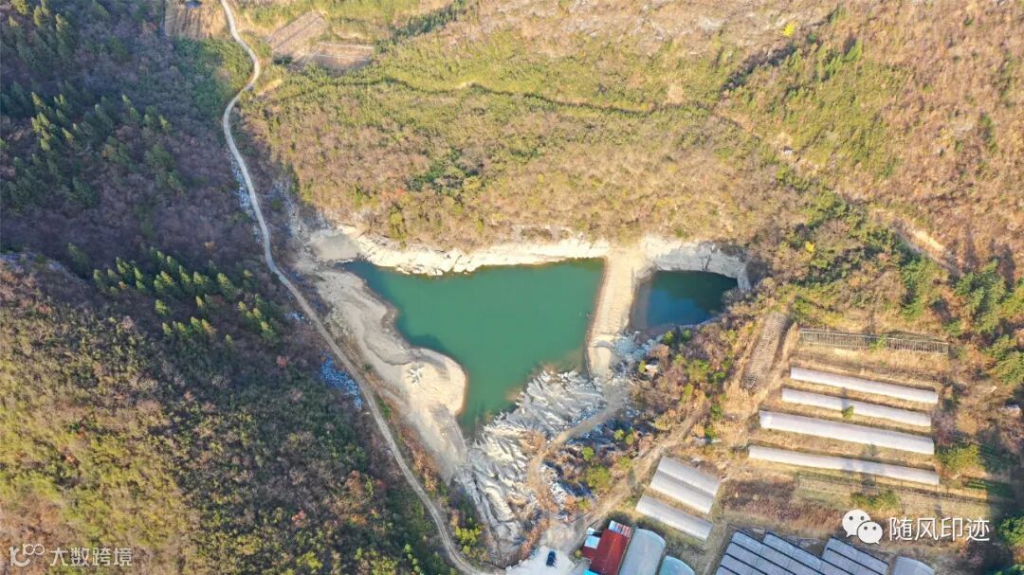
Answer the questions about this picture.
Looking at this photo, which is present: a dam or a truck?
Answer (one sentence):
This aerial view contains a dam.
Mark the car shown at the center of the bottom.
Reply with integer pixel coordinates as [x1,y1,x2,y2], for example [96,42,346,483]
[546,550,558,568]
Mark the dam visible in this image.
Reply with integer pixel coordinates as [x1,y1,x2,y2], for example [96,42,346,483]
[589,237,644,376]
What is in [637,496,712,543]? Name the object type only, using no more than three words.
greenhouse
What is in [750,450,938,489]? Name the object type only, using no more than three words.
greenhouse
